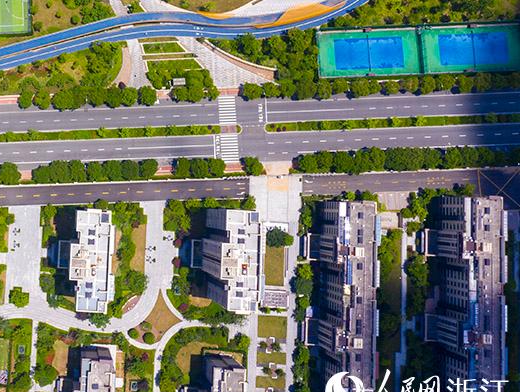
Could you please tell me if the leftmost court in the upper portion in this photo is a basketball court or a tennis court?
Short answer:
tennis court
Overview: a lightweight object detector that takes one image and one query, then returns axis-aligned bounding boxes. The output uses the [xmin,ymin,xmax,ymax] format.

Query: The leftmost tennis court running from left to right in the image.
[316,22,427,80]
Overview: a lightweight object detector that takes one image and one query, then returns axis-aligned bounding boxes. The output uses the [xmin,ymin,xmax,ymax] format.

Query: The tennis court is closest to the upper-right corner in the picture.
[423,18,520,76]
